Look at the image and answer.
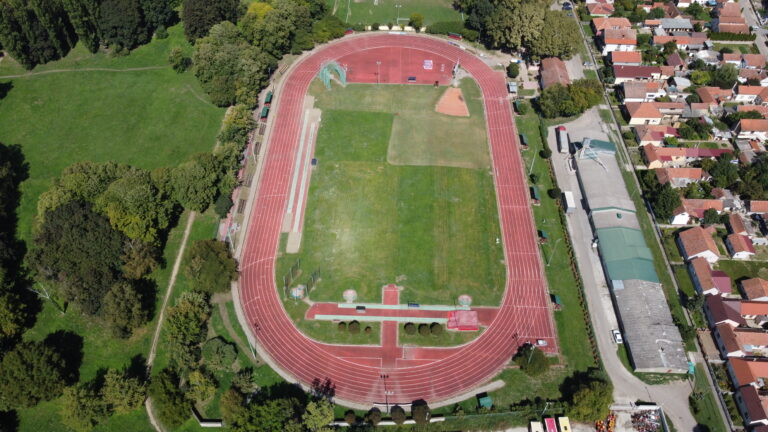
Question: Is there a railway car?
No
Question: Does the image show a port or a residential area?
residential area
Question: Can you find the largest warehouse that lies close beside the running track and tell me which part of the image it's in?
right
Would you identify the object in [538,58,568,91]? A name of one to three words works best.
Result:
building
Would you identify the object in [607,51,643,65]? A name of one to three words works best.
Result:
house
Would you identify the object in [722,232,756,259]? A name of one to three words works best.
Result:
house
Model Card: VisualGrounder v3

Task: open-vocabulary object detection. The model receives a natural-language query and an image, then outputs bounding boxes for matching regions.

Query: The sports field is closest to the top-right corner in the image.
[436,71,472,116]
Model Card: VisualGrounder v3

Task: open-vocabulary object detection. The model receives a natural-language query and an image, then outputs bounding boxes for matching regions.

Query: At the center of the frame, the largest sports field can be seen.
[274,46,507,368]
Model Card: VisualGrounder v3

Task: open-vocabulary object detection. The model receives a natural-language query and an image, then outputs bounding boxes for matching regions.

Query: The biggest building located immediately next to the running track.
[569,136,691,379]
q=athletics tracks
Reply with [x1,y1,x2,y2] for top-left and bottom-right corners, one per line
[226,30,561,419]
